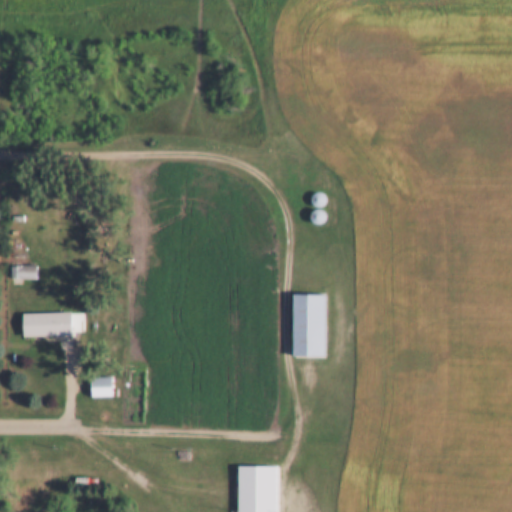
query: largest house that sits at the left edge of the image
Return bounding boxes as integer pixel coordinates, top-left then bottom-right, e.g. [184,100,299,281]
[22,312,87,338]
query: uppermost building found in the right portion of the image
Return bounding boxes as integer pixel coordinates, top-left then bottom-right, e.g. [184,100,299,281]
[292,294,327,358]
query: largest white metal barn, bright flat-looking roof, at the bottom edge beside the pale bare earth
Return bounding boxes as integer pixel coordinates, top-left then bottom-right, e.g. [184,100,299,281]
[238,466,280,512]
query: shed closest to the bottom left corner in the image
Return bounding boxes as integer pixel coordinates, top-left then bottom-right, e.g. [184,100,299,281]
[90,376,116,398]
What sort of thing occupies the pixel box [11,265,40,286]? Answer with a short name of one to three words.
building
